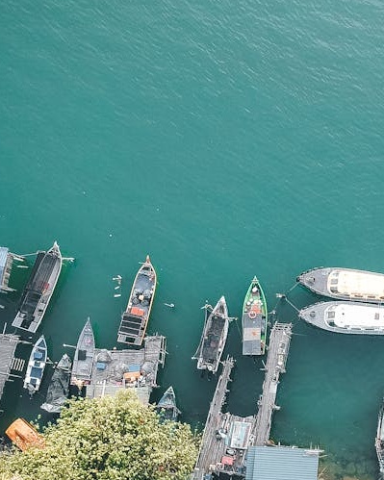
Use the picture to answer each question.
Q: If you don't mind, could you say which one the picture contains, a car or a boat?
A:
boat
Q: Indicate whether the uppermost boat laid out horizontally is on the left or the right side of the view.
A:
right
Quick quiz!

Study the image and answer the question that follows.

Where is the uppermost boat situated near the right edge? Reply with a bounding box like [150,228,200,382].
[297,268,384,304]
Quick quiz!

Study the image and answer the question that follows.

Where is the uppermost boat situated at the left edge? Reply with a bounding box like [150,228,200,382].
[15,239,59,332]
